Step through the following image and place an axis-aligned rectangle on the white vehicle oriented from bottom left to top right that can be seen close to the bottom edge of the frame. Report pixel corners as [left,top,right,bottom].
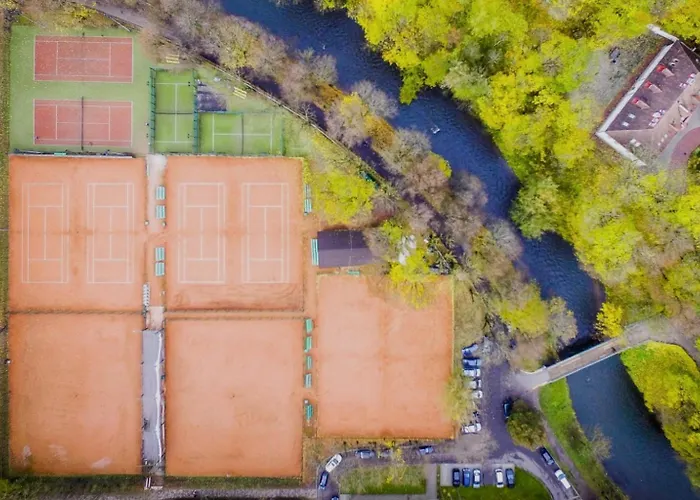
[323,453,343,476]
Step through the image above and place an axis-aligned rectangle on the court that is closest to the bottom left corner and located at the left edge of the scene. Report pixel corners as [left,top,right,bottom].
[9,315,142,475]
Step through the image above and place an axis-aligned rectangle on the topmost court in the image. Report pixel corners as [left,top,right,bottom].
[10,25,146,90]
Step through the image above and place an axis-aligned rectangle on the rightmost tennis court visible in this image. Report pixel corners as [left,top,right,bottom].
[318,276,454,438]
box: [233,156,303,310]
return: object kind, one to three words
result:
tennis court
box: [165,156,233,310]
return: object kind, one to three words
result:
tennis court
